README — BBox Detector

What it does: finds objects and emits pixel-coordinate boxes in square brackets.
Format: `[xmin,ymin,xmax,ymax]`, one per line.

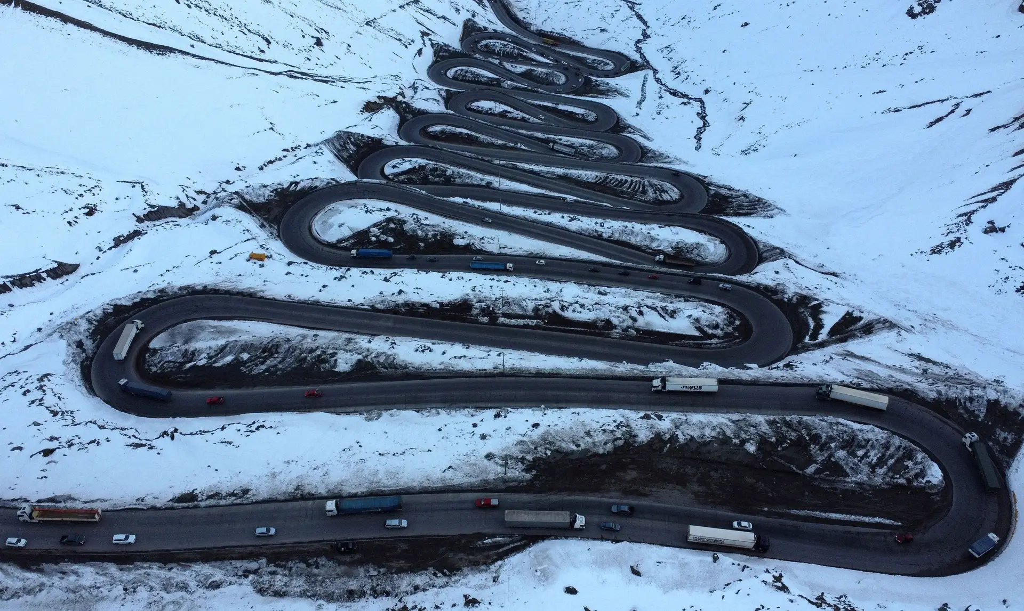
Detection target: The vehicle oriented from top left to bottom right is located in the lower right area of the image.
[957,433,1009,492]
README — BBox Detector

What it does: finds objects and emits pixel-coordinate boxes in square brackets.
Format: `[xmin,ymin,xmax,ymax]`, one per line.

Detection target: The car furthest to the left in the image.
[1,536,32,549]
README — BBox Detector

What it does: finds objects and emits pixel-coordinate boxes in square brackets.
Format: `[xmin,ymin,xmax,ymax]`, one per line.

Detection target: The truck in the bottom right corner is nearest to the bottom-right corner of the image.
[963,531,1004,561]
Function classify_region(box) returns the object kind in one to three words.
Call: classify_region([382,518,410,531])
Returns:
vehicle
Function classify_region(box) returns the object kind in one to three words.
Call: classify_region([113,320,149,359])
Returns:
truck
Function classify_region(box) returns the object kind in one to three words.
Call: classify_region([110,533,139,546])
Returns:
vehicle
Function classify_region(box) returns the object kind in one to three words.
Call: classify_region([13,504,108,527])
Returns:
truck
